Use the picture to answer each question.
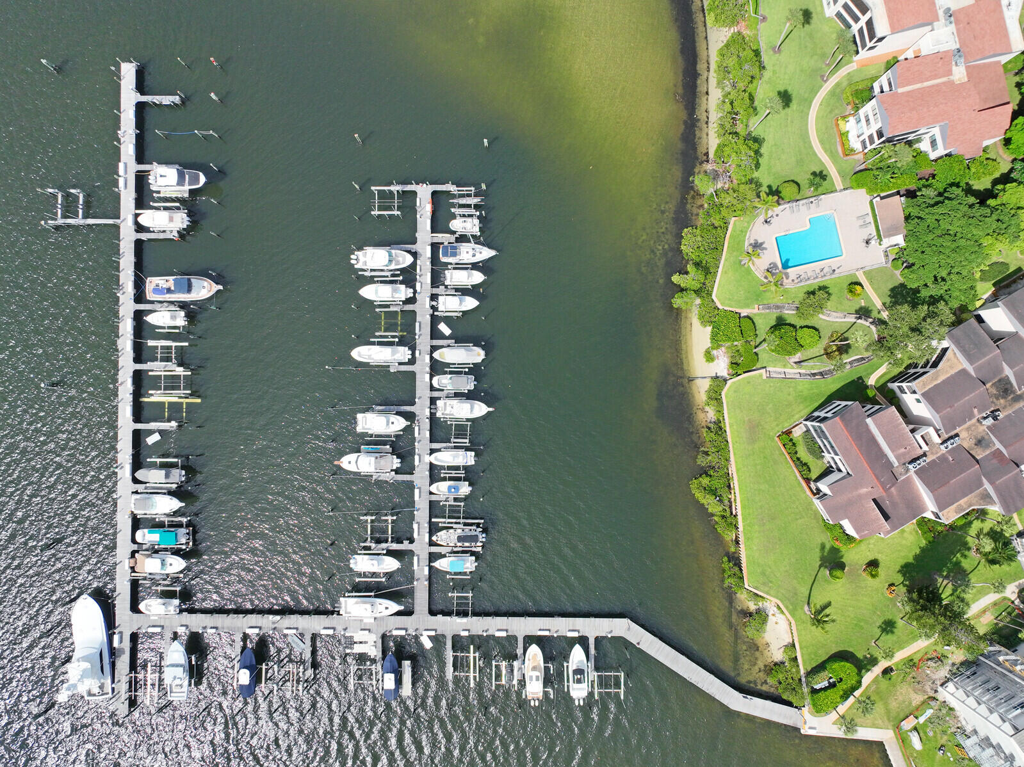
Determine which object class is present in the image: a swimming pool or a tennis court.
swimming pool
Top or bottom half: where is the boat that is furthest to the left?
bottom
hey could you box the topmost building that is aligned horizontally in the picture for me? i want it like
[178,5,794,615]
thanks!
[824,0,1024,80]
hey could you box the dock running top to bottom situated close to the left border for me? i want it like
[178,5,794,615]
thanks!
[48,58,187,715]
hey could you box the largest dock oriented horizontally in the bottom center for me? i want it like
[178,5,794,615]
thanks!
[130,613,802,729]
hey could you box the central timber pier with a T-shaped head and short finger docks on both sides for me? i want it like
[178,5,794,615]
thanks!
[371,181,456,617]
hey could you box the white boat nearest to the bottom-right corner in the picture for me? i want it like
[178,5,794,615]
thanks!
[917,707,933,723]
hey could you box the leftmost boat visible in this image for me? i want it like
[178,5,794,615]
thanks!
[60,596,117,703]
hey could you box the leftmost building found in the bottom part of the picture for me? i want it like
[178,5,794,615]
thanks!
[805,401,938,538]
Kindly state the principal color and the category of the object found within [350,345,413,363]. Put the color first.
white boat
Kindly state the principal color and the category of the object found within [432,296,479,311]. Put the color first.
white boat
